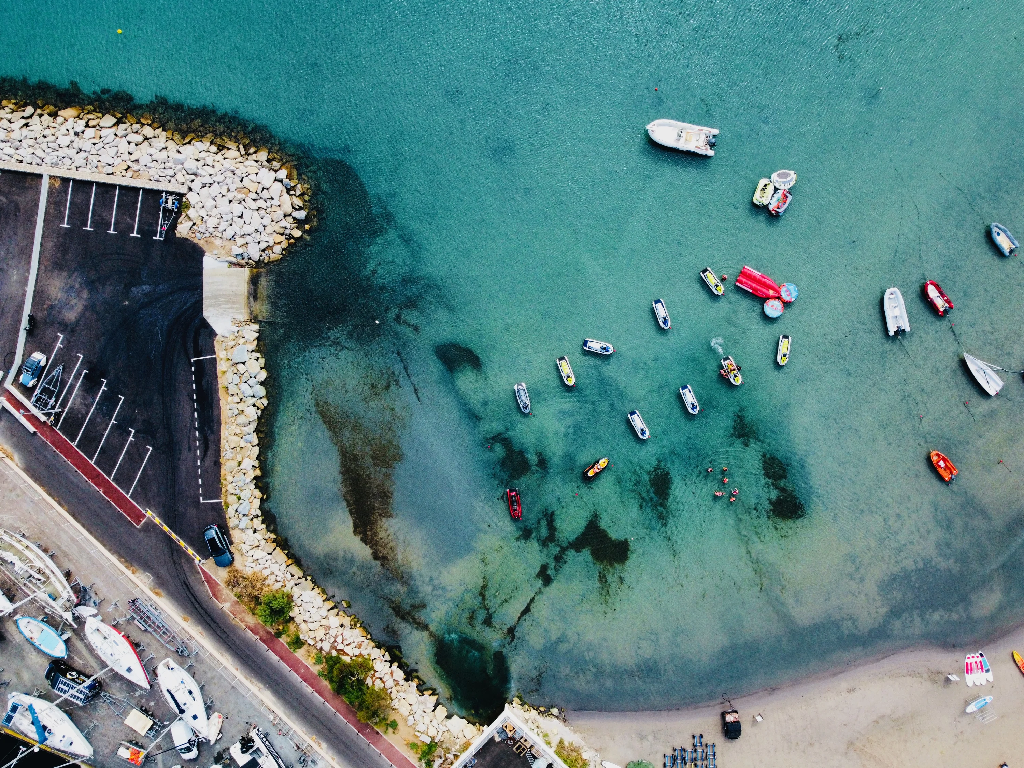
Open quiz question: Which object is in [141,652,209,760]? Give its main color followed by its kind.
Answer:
white boat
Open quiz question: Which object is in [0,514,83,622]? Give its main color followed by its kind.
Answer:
white boat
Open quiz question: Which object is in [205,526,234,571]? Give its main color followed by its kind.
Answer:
blue car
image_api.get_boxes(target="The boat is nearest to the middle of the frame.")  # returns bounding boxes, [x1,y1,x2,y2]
[515,383,531,413]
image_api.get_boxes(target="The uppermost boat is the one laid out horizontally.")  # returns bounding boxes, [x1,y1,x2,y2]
[643,117,719,155]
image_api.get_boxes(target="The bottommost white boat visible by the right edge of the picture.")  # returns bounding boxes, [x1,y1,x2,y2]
[963,353,1015,394]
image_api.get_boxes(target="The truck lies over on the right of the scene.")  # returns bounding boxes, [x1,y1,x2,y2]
[721,706,743,739]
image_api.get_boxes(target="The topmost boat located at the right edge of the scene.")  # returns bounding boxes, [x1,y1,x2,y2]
[990,221,1019,255]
